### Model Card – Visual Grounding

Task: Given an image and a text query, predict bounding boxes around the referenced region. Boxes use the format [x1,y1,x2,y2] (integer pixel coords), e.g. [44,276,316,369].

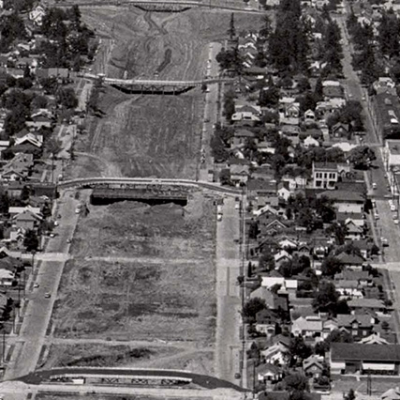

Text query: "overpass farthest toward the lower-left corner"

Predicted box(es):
[0,363,253,391]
